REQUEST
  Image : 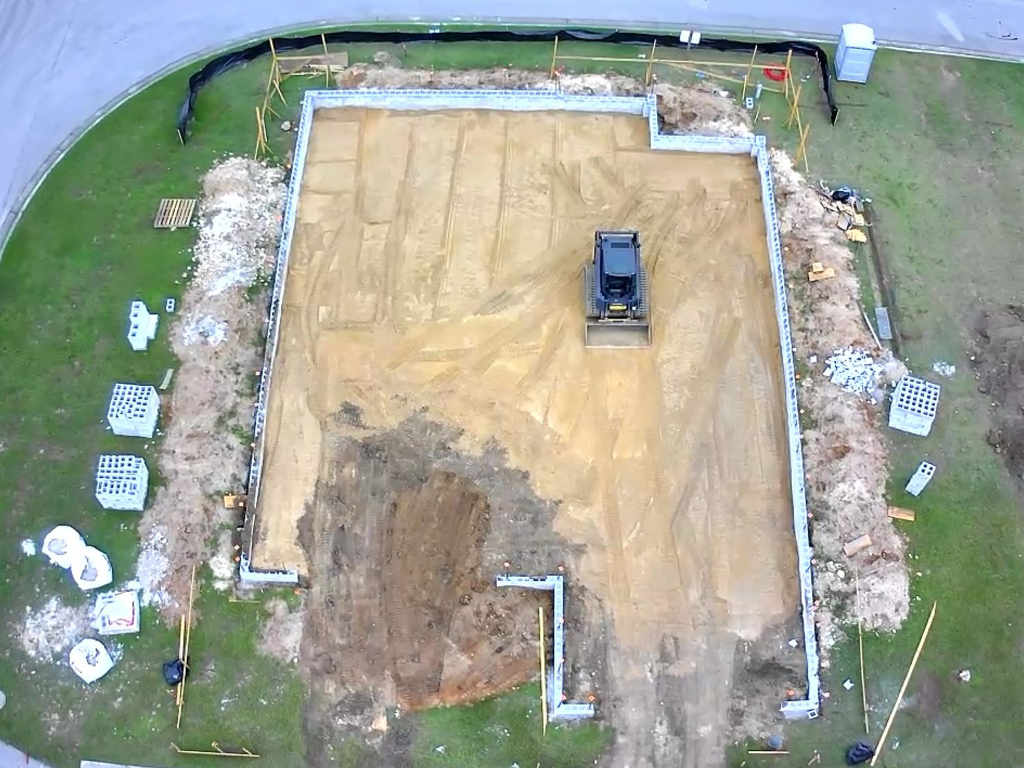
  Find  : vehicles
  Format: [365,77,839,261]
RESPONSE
[585,229,652,348]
